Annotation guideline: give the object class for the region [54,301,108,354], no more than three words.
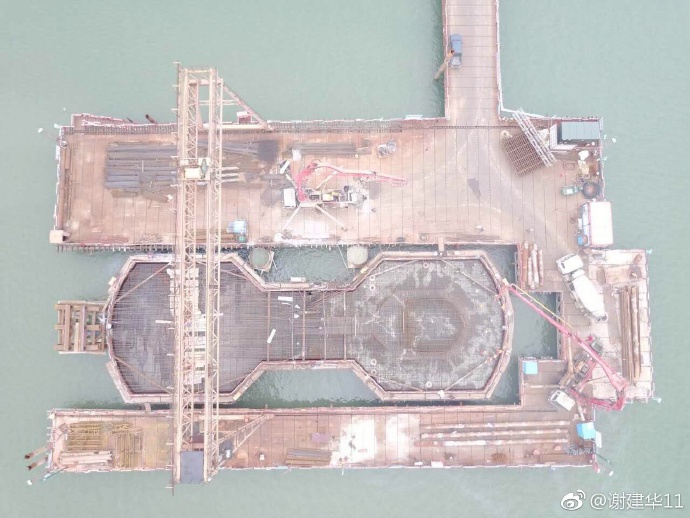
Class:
pier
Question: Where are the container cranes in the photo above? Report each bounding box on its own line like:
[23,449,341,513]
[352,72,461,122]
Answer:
[168,61,270,495]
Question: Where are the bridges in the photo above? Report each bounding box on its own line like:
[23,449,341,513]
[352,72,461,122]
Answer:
[443,0,502,121]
